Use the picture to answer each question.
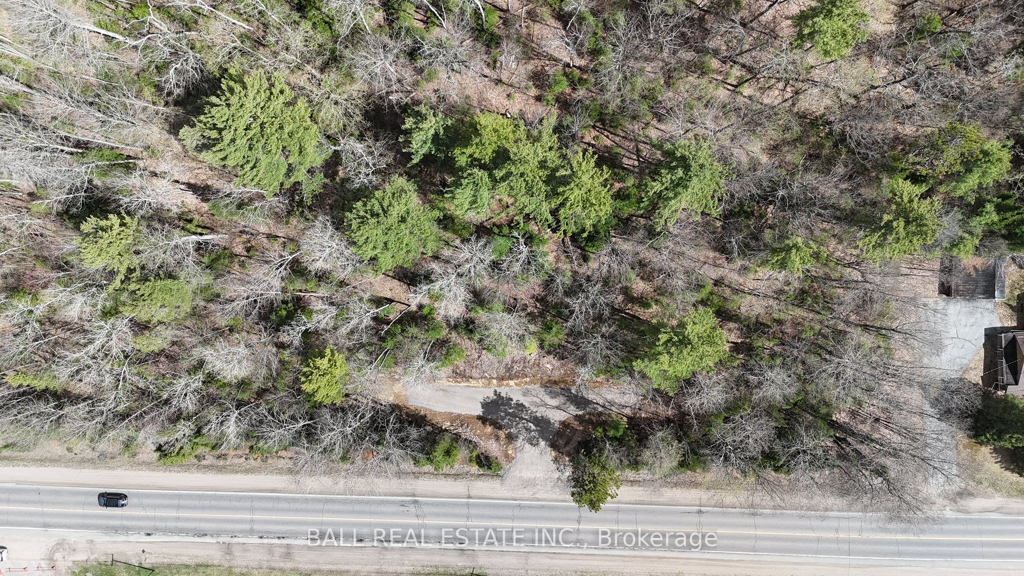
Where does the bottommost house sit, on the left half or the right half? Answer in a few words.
right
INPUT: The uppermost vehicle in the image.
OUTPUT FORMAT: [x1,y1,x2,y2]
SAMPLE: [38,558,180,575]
[97,493,125,508]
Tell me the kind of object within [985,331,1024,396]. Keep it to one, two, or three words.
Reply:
house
